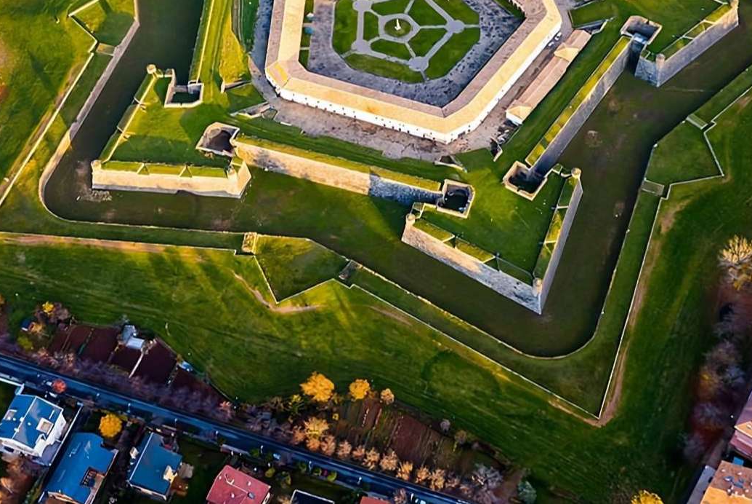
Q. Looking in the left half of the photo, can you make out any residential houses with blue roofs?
Yes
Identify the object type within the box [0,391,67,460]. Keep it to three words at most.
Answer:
house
